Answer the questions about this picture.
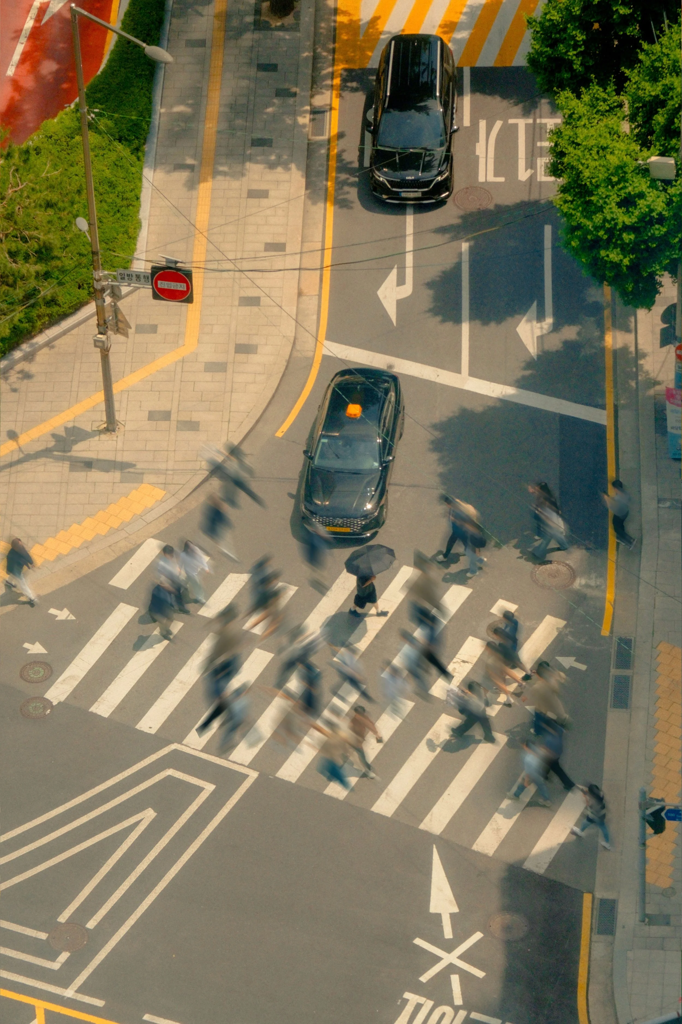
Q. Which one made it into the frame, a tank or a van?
van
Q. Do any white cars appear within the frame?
No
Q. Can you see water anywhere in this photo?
No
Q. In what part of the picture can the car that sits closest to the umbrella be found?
center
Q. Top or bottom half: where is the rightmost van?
top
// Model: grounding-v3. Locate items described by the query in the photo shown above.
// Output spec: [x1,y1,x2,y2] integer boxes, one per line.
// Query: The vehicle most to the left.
[300,371,405,535]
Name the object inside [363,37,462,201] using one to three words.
van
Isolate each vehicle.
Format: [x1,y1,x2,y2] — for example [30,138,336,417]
[300,371,405,535]
[363,37,462,201]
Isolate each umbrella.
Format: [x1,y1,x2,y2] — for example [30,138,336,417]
[344,542,396,578]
